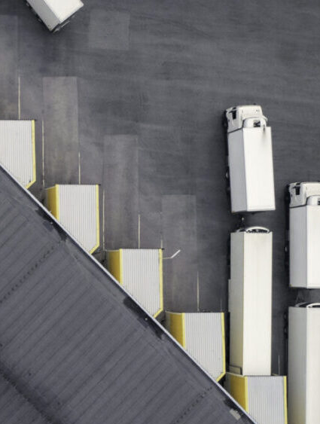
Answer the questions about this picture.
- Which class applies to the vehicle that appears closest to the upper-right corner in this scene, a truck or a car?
truck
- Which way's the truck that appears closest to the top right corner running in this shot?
vertically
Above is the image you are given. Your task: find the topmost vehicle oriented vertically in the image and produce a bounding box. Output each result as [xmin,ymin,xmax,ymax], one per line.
[222,106,276,214]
